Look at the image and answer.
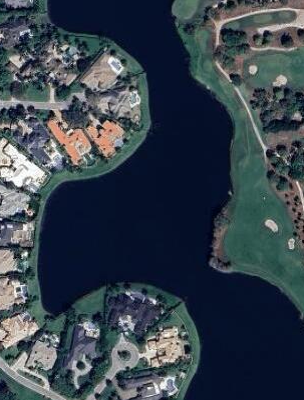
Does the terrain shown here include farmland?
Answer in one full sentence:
No, no farmland is visible.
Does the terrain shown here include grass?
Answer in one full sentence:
Yes, there's grass in this view.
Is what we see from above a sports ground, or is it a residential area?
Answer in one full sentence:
The picture captures a residential area.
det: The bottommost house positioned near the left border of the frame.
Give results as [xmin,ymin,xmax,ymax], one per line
[14,331,65,373]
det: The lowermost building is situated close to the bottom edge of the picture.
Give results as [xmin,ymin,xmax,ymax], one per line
[116,372,166,400]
